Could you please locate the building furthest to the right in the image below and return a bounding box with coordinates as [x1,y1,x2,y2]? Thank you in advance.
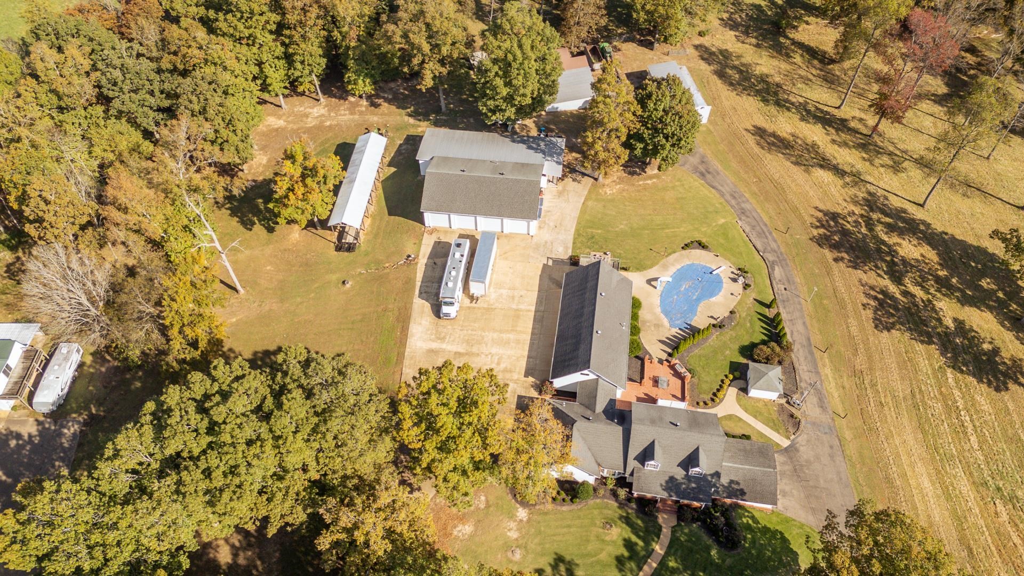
[747,362,783,400]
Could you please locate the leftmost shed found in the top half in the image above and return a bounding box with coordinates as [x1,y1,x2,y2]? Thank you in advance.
[328,132,388,241]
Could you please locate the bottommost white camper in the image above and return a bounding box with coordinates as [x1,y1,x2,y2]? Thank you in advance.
[34,344,87,413]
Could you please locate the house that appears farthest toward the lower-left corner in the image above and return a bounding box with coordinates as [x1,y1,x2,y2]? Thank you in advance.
[0,325,51,404]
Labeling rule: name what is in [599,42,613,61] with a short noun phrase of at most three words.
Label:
work vehicle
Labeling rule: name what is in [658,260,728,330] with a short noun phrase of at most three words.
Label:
swimming pool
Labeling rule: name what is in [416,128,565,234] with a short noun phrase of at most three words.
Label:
building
